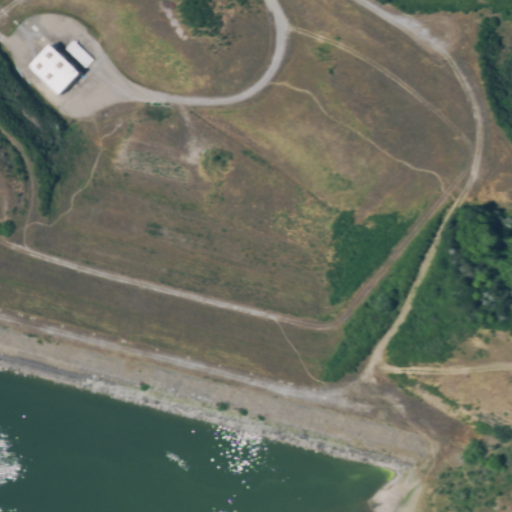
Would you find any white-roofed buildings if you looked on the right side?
No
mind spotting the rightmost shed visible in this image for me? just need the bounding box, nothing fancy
[66,40,94,68]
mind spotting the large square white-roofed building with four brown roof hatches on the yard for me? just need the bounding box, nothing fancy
[28,44,80,95]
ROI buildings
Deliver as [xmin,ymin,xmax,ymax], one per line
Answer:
[66,40,94,68]
[28,44,80,95]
